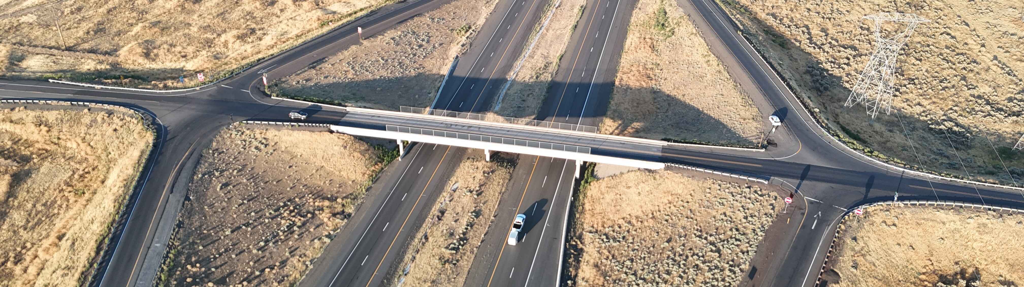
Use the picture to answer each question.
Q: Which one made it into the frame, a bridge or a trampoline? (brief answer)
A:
bridge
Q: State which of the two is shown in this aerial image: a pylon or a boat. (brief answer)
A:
pylon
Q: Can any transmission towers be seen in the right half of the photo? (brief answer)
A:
Yes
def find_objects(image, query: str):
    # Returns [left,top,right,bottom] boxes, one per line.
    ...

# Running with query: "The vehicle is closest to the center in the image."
[512,216,526,235]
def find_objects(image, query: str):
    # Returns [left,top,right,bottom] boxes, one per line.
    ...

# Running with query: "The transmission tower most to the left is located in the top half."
[846,11,929,116]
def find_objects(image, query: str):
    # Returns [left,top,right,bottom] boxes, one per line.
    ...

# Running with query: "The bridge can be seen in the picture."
[332,107,673,179]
